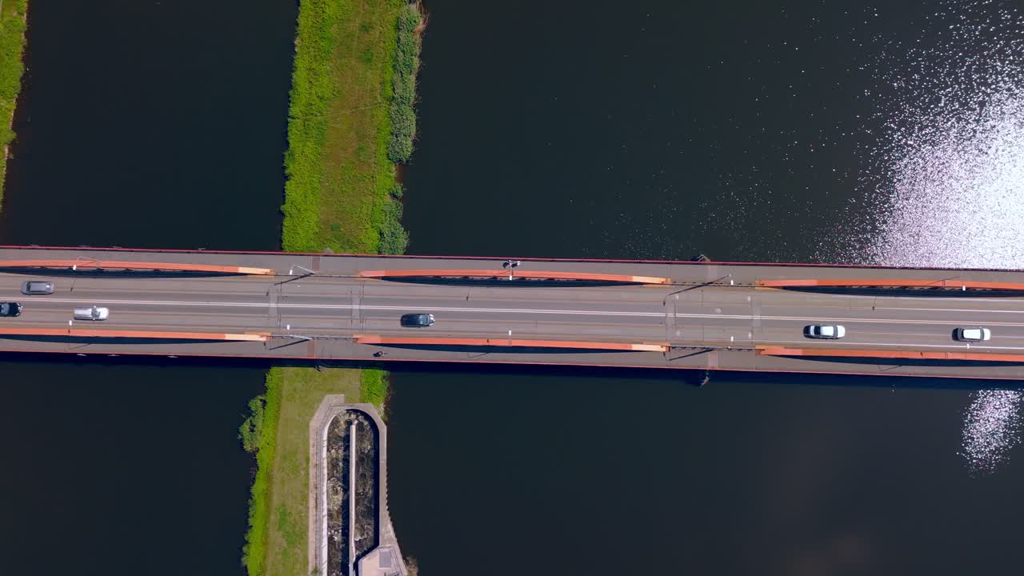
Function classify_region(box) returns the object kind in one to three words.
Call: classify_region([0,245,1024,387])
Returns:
bridge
